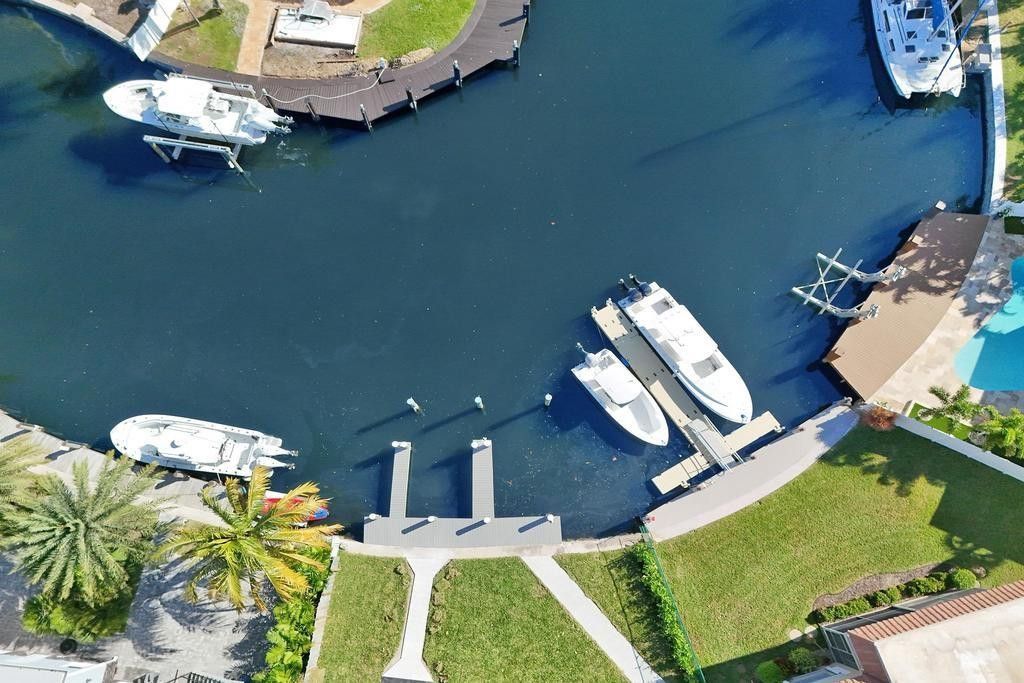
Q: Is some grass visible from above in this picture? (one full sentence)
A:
Yes, some grass is visible.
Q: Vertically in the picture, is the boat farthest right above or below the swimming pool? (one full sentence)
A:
The boat farthest right is above the swimming pool.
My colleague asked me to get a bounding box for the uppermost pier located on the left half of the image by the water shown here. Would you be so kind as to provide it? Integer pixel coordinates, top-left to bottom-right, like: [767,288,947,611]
[147,0,530,125]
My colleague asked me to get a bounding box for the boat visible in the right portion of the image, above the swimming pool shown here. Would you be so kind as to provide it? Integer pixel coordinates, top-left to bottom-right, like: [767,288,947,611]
[873,0,990,98]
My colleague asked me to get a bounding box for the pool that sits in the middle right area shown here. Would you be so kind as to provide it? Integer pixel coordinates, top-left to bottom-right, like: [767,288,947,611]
[948,250,1024,398]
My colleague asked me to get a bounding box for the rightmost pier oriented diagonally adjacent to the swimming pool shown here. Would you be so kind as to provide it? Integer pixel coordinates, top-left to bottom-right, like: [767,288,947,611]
[821,212,991,404]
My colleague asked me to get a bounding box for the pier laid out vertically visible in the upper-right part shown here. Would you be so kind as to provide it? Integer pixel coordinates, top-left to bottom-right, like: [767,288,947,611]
[964,0,990,70]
